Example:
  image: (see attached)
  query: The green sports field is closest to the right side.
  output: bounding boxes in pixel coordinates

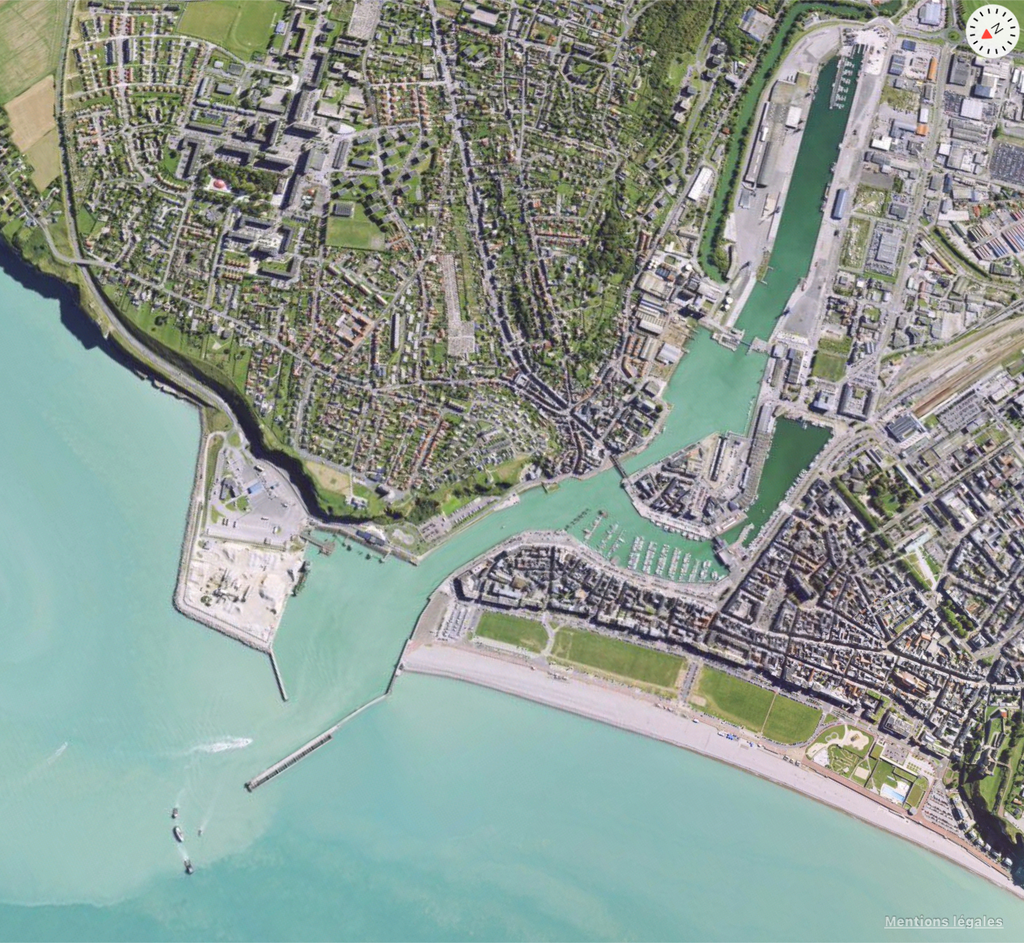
[812,353,847,380]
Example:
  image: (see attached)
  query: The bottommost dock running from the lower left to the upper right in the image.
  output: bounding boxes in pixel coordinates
[245,627,419,791]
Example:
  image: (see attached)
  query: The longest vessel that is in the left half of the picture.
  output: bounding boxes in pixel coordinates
[292,562,307,593]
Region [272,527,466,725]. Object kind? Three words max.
harbor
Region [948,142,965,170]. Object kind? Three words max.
building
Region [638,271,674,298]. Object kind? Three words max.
building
